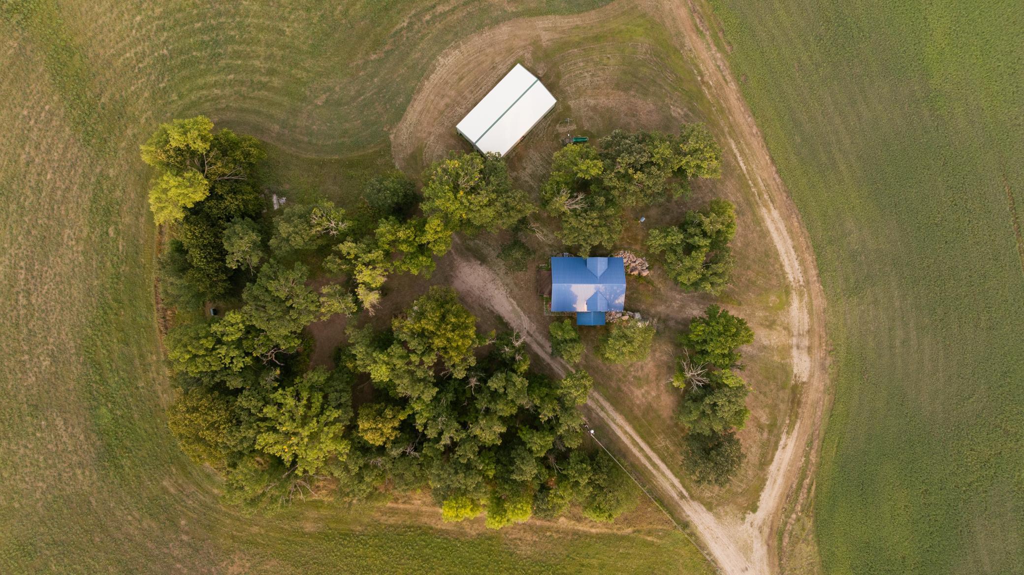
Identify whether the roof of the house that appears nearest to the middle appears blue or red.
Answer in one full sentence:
In this view, the roof of the house that appears nearest to the middle is blue.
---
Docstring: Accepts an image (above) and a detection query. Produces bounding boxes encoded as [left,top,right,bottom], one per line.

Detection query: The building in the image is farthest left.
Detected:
[456,63,557,157]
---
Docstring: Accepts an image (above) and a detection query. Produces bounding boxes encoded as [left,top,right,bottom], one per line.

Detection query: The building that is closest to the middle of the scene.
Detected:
[539,257,627,328]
